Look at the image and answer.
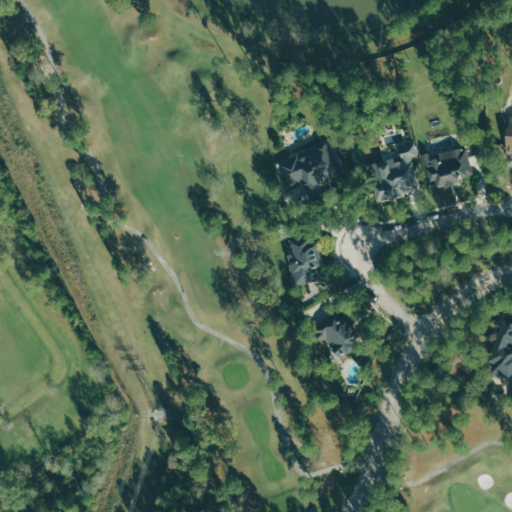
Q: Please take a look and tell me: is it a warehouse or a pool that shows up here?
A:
pool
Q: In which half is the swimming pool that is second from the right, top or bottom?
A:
top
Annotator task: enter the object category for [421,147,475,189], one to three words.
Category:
house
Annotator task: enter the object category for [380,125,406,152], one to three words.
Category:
swimming pool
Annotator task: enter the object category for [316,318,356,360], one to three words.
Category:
house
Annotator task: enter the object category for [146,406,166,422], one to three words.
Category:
pylon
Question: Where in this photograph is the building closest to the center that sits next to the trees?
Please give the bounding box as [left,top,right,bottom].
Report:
[288,239,323,286]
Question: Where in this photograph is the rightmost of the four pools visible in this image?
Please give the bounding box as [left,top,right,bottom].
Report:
[425,134,458,153]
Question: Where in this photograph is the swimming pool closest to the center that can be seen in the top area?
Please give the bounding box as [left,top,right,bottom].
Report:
[282,124,312,148]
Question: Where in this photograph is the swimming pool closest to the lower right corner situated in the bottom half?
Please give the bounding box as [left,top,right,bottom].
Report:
[343,358,362,386]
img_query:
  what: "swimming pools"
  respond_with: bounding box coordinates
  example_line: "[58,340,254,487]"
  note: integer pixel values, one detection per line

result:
[425,134,458,153]
[343,358,362,386]
[380,125,406,152]
[282,124,312,148]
